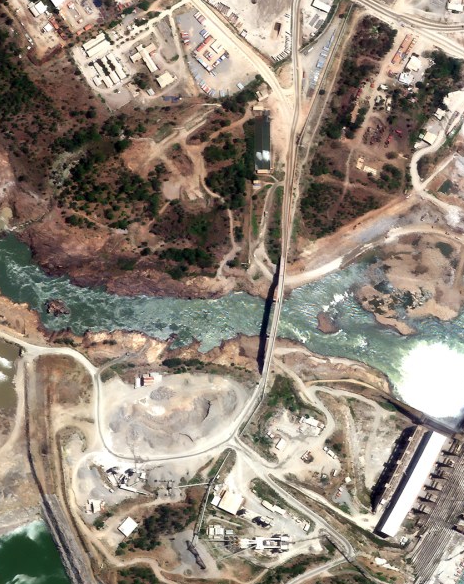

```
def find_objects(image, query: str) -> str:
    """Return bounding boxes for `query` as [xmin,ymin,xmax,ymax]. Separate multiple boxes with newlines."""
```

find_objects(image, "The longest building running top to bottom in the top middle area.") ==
[254,114,269,175]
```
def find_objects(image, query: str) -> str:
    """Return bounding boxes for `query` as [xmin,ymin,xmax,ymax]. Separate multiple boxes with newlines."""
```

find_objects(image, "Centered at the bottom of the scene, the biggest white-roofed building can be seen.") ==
[218,491,244,515]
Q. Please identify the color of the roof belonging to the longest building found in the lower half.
white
